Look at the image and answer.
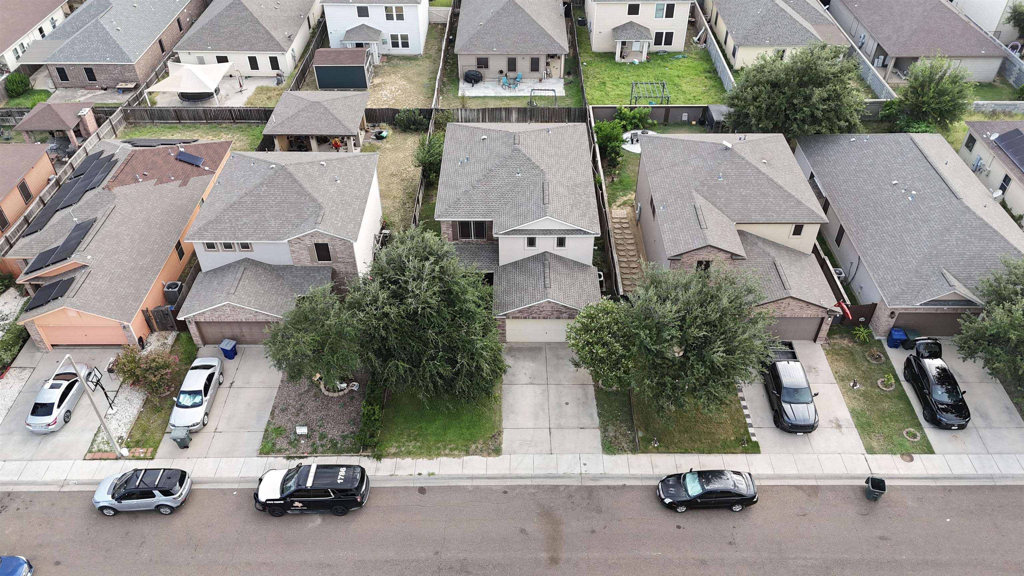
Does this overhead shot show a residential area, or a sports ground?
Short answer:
residential area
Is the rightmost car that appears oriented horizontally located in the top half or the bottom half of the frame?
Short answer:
bottom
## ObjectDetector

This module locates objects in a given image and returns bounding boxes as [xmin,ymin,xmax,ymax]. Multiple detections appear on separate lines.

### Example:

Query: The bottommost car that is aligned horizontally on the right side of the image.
[658,466,762,513]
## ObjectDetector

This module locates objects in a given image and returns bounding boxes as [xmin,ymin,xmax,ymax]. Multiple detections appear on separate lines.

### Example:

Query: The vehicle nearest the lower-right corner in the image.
[904,342,968,431]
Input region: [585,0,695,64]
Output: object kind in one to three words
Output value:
house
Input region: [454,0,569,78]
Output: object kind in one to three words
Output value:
house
